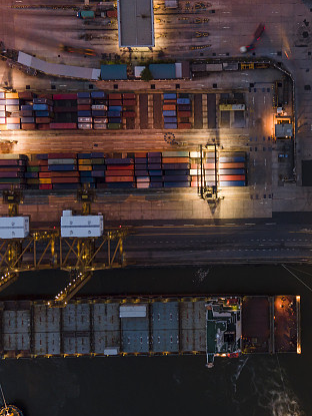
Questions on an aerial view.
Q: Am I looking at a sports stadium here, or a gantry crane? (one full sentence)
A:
The image shows a gantry crane.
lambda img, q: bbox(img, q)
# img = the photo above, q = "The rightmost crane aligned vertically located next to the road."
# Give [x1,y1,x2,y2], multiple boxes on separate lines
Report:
[198,140,228,201]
